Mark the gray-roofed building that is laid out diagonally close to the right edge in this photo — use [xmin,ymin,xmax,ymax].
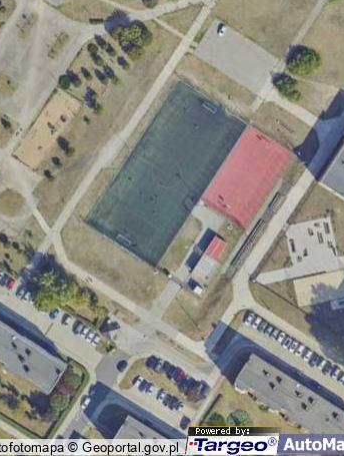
[235,352,344,451]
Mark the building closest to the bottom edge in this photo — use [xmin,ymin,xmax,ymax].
[110,412,197,456]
